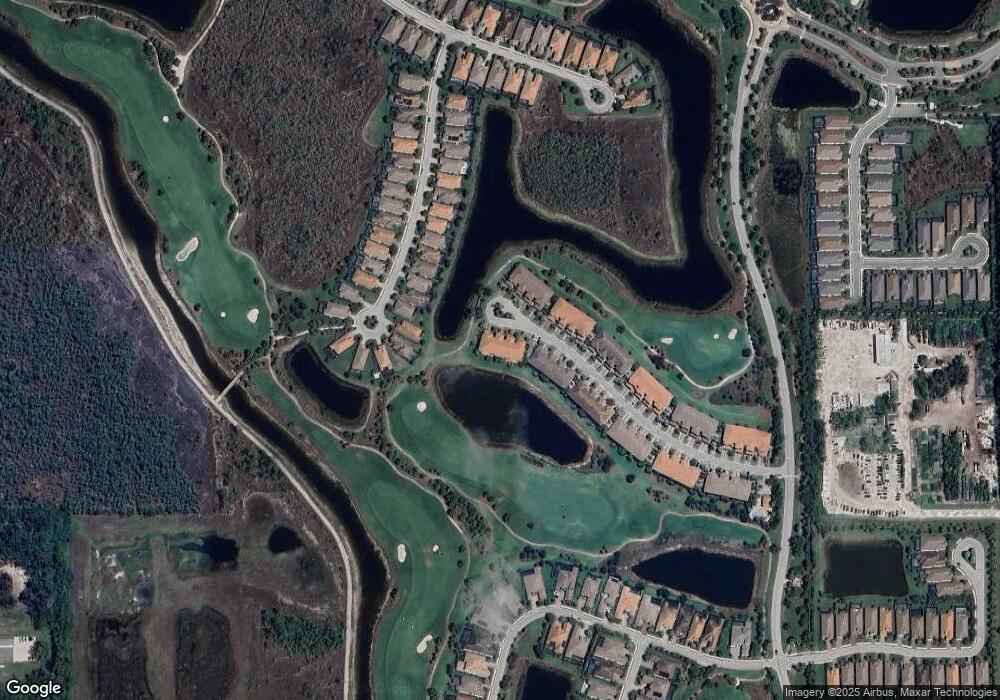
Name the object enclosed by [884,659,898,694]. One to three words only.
house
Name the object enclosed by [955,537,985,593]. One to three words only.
roundabout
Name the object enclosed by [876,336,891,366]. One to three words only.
building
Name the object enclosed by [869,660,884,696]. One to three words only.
house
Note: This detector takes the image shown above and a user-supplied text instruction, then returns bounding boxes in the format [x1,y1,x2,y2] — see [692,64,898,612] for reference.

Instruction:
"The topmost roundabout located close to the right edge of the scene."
[952,234,989,268]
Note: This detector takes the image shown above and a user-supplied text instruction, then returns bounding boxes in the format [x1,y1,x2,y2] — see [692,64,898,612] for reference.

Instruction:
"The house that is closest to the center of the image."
[479,330,526,363]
